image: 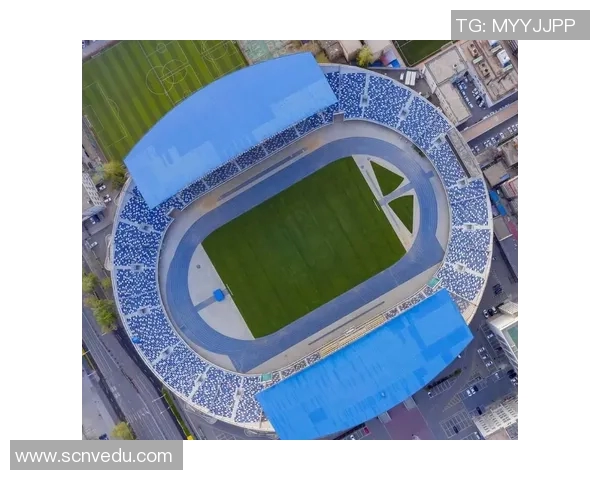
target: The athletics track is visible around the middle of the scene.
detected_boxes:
[167,135,449,372]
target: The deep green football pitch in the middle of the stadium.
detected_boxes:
[200,156,407,338]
